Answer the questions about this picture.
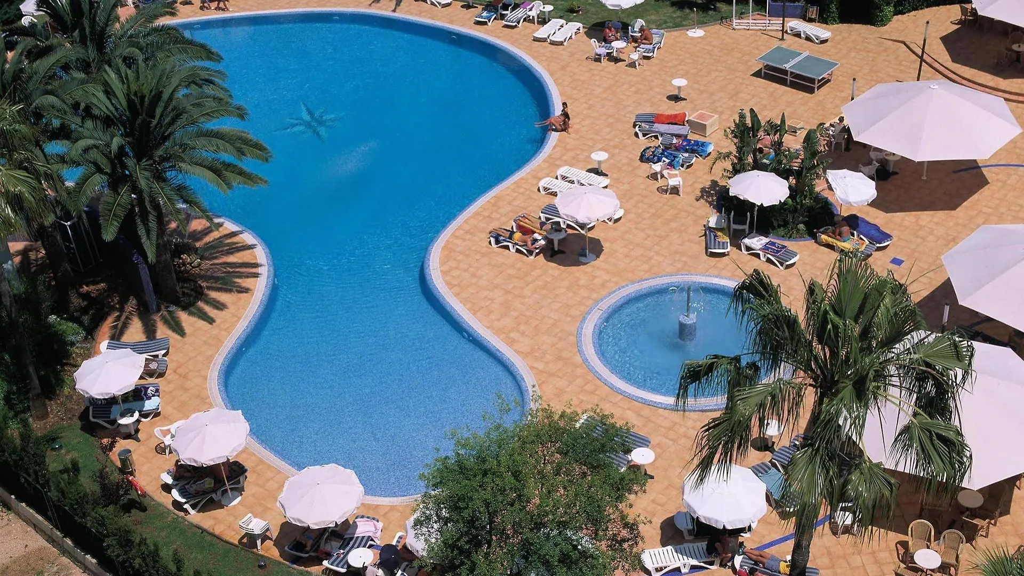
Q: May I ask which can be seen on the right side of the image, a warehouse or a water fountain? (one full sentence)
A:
What appears on the right side of the image is a water fountain.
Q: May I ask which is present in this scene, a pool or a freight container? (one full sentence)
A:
It is a pool that can be seen here.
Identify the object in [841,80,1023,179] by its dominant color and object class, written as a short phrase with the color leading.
white umbrella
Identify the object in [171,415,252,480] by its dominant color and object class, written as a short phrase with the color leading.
white umbrella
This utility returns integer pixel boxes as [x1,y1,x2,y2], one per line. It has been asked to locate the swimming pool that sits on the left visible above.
[45,10,556,497]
